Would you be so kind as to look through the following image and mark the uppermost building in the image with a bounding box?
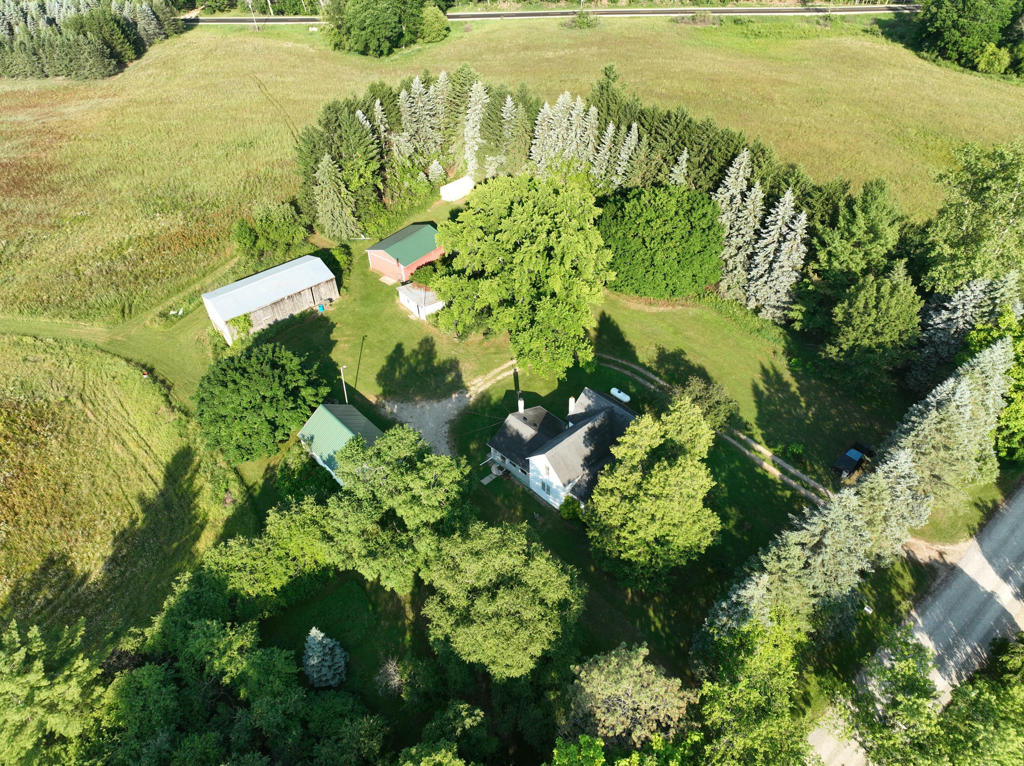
[366,223,448,282]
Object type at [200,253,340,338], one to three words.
barn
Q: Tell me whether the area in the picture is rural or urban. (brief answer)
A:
rural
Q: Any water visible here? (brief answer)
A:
No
